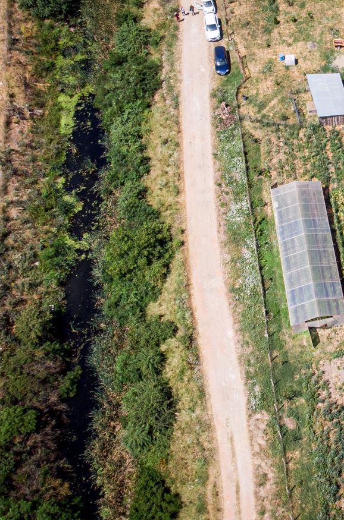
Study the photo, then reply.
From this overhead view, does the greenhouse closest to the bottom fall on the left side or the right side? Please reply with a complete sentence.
You can find the greenhouse closest to the bottom on the right side of the picture.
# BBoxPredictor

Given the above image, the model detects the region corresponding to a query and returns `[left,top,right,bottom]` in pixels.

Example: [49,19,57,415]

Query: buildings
[306,73,344,125]
[269,180,344,345]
